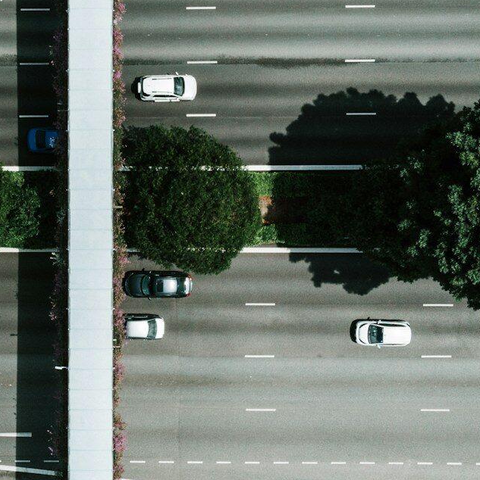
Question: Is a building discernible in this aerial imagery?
No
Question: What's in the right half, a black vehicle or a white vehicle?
white vehicle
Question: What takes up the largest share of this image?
paved ground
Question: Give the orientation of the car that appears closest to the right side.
from left to right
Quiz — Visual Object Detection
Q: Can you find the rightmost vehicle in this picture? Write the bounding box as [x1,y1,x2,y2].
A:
[354,319,416,349]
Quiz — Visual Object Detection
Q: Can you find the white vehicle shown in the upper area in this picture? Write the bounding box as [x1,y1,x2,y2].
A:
[134,71,199,101]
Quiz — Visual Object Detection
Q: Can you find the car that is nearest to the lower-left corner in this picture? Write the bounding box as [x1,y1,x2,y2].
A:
[121,313,166,340]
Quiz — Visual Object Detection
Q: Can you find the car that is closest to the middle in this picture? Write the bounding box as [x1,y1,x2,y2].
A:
[124,269,194,300]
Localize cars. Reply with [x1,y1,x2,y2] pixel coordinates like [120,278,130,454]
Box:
[124,269,194,300]
[134,71,199,101]
[121,313,166,340]
[354,319,416,349]
[27,126,60,153]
